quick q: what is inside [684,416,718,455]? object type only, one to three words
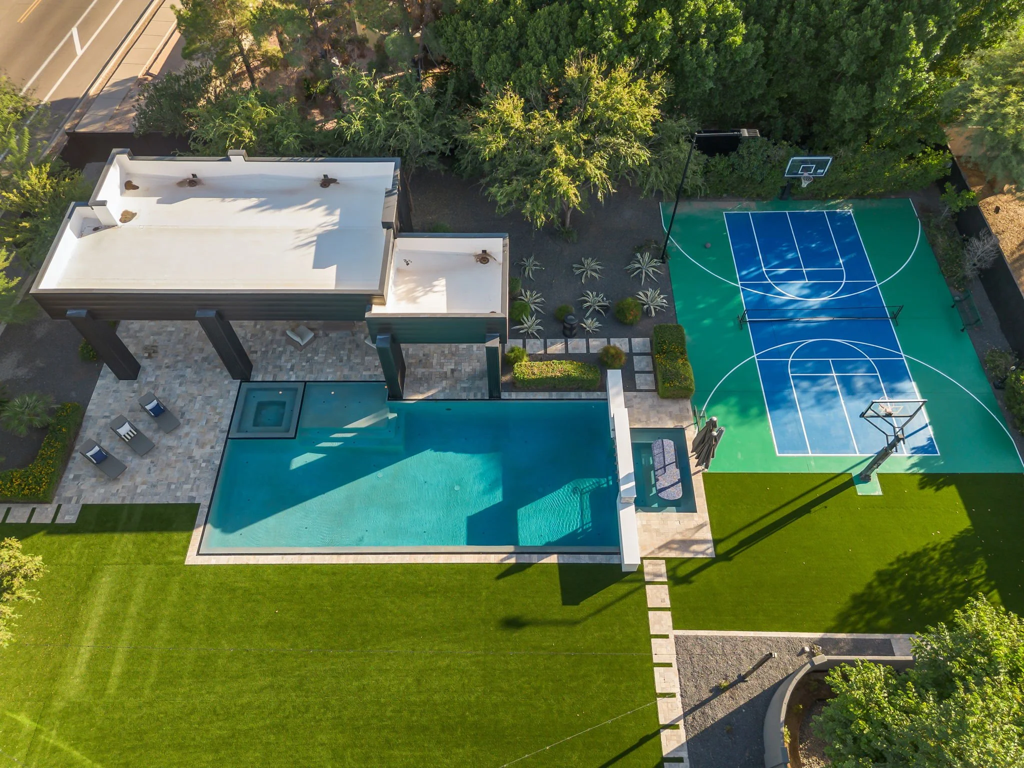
umbrella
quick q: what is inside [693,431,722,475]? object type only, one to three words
umbrella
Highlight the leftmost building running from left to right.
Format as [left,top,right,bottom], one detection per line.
[30,147,509,398]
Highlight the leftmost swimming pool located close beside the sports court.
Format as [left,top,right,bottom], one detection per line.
[197,380,621,555]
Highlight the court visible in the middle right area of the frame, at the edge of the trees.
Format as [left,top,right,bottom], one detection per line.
[660,194,1024,495]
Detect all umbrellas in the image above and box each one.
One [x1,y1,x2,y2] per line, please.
[684,416,718,455]
[693,431,722,475]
